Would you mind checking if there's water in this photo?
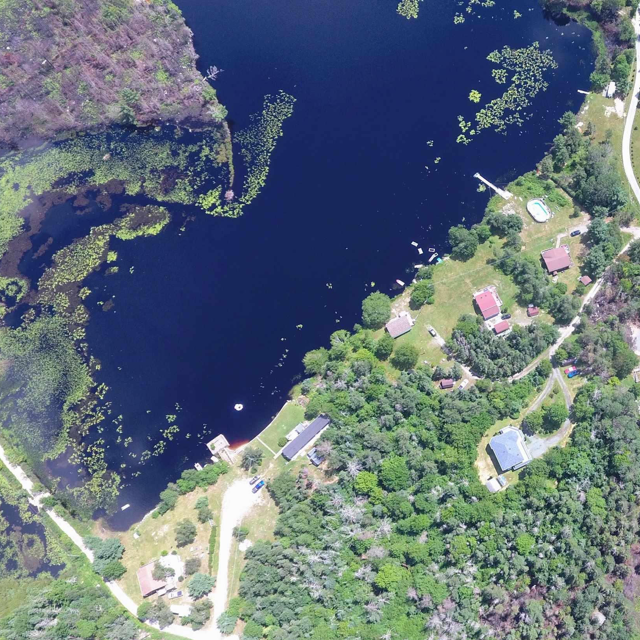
Yes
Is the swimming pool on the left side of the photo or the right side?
right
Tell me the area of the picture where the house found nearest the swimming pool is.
right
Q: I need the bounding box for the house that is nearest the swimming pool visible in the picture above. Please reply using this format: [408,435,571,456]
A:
[540,243,574,275]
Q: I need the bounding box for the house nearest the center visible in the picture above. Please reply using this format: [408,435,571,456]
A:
[387,309,415,339]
